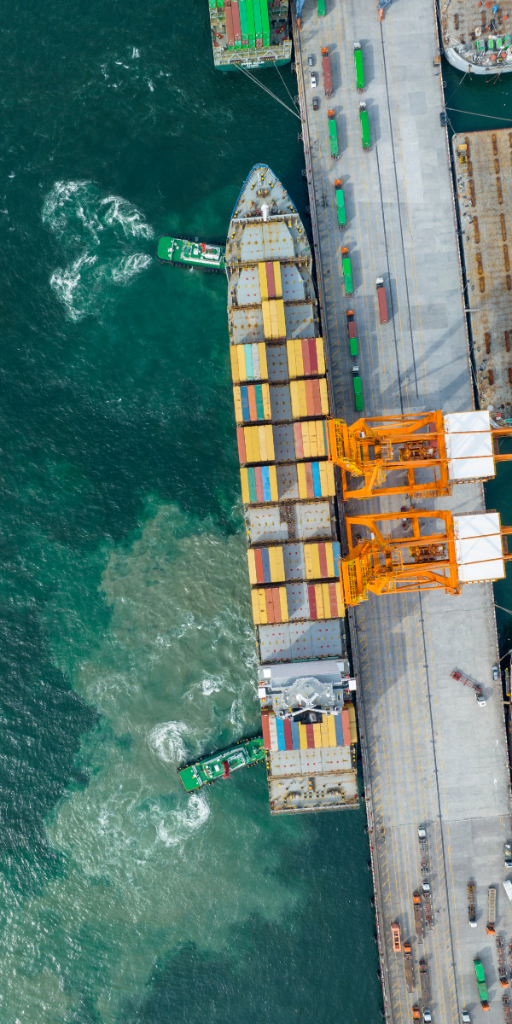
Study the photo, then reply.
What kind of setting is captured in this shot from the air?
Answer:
port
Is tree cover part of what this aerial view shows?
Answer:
No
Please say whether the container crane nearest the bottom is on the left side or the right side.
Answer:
right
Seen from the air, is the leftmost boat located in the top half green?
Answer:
Yes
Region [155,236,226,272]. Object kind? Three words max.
boat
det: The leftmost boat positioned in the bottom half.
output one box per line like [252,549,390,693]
[175,740,264,793]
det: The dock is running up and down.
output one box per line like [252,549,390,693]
[289,0,512,1024]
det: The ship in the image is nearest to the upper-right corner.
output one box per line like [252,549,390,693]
[436,0,512,83]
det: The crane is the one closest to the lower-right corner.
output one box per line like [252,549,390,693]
[339,508,512,597]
